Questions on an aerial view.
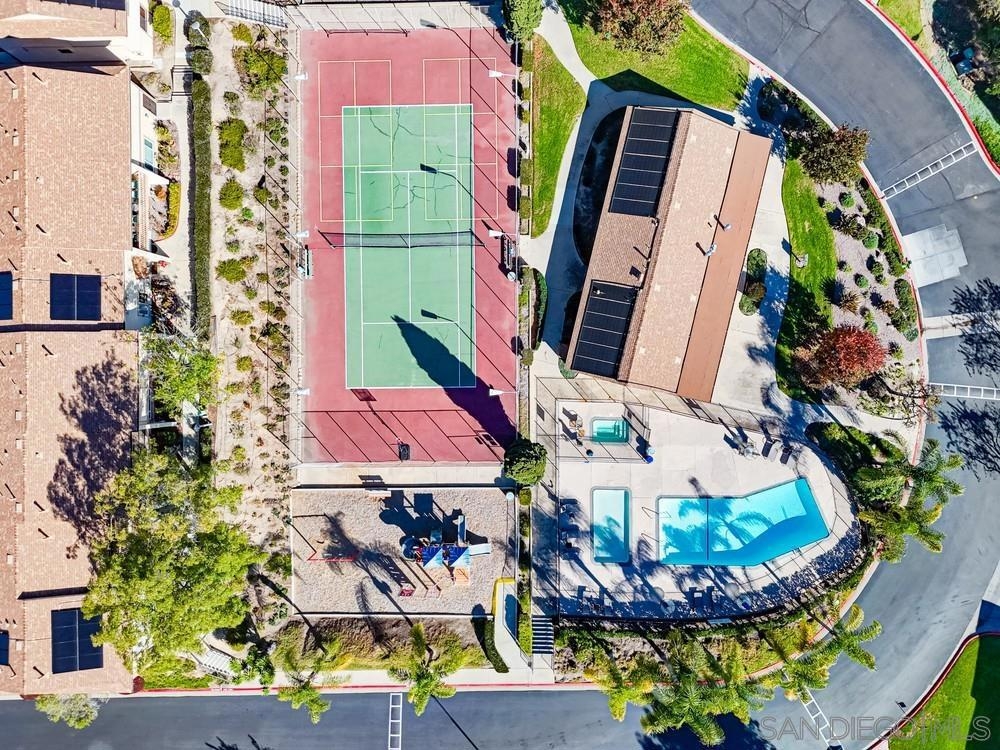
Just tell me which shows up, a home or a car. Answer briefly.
home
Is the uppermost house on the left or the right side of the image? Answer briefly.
left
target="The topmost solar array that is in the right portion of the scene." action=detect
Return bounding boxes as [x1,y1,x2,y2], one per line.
[606,108,677,220]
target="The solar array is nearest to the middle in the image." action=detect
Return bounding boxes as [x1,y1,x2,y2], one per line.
[570,279,637,378]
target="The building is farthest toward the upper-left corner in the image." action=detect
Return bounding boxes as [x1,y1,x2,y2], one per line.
[0,0,146,61]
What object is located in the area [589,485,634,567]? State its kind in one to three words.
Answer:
swimming pool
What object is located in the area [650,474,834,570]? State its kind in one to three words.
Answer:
swimming pool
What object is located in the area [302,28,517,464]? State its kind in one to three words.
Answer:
tennis court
